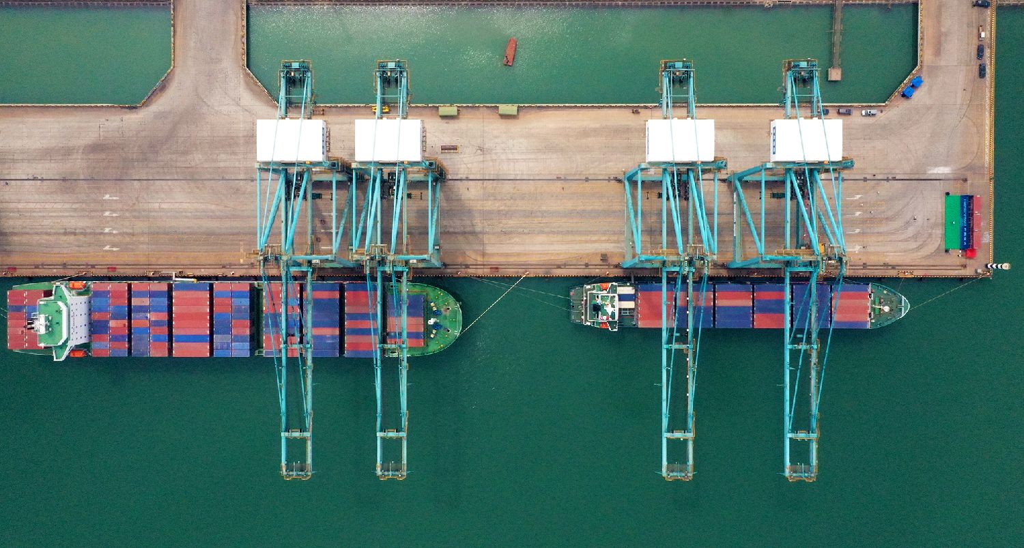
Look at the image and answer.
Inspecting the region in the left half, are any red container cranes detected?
No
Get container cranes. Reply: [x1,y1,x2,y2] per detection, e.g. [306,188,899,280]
[249,59,368,480]
[715,57,858,482]
[608,58,732,481]
[347,58,458,480]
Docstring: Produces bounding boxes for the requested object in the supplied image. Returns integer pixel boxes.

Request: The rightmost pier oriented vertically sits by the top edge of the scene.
[824,3,842,82]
